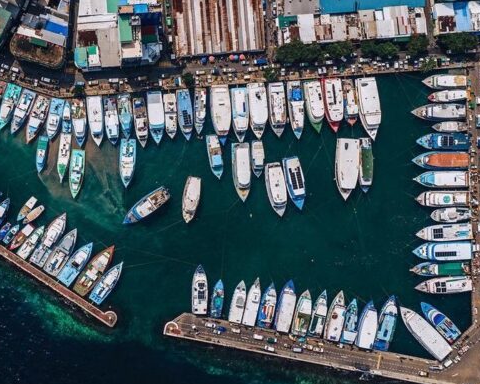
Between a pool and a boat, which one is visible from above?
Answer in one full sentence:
I can see a boat in this picture.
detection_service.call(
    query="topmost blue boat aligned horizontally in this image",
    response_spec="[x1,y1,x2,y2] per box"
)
[416,133,472,151]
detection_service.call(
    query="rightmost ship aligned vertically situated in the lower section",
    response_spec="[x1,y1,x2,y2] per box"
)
[375,295,398,352]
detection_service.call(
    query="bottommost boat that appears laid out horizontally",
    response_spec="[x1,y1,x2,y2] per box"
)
[414,278,474,296]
